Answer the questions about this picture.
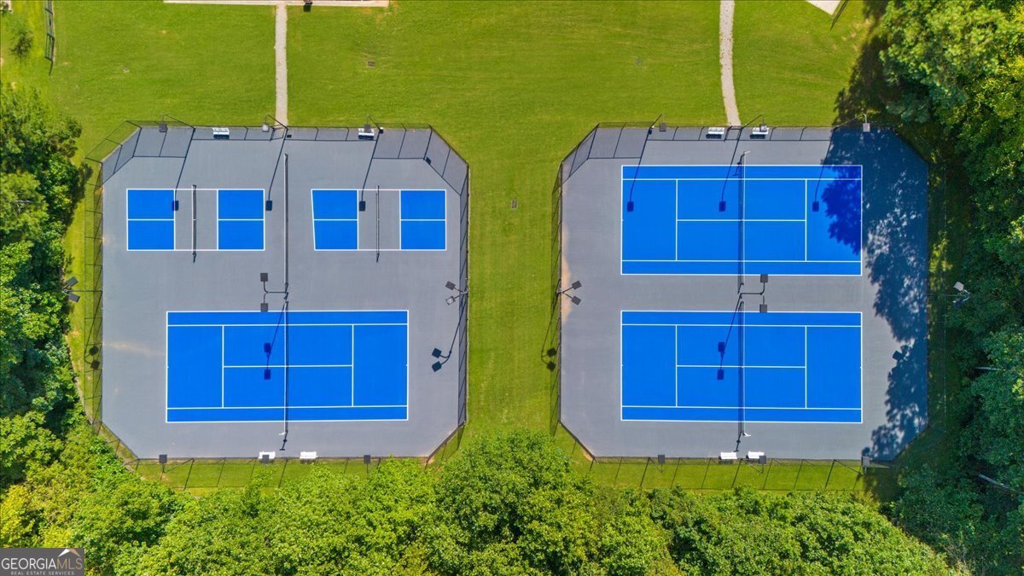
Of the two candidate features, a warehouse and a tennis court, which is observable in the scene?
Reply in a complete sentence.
I can see a tennis court in this picture.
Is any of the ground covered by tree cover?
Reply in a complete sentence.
Yes, tree cover shows up in the scene.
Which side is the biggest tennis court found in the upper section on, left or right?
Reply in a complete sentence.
It is on the right.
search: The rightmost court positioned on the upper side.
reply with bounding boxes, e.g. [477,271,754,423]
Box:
[622,165,863,276]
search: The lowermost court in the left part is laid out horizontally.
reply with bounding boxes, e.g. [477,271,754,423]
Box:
[168,310,408,423]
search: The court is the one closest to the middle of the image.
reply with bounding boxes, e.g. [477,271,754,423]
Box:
[311,189,446,250]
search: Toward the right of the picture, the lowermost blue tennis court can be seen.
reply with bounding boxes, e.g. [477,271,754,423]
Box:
[621,311,863,424]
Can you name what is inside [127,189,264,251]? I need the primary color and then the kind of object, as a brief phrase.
blue sports court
